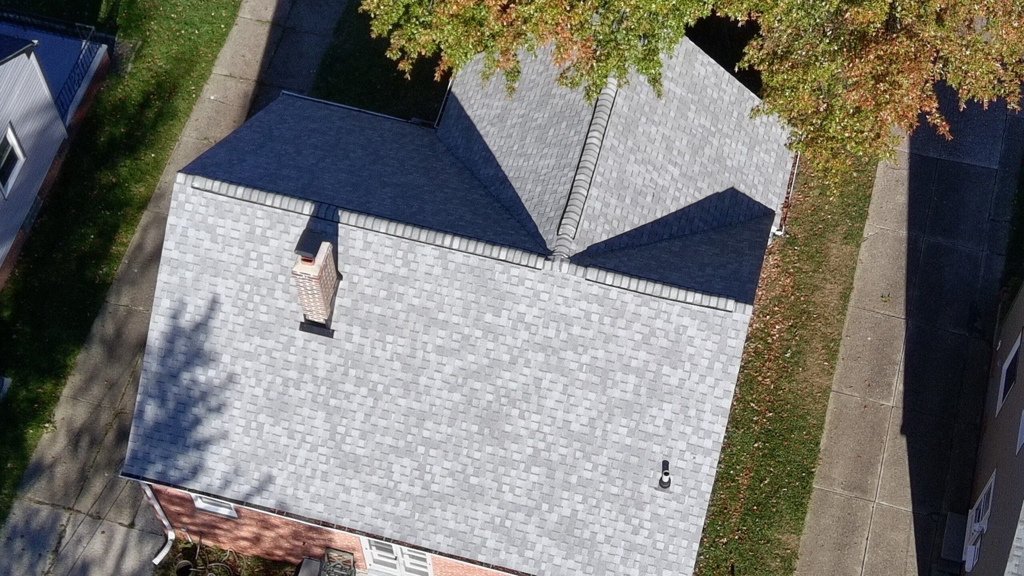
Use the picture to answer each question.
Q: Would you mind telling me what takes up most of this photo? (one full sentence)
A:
The bulk of the photo consists of buildings.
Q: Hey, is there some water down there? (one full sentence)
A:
No, the picture contains no water.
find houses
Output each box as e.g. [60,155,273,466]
[940,276,1024,576]
[0,1,114,287]
[124,5,802,576]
